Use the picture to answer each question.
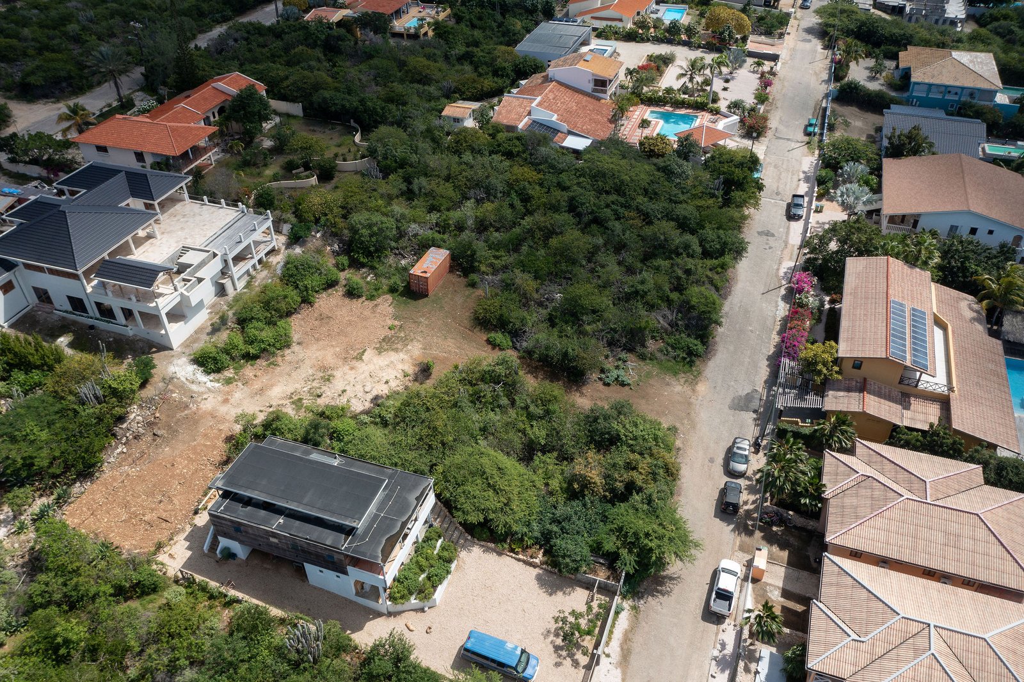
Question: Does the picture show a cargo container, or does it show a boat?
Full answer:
Looking from above, you can make out a cargo container.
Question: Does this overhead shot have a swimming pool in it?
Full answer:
Yes, looking at the shot, I can spot a swimming pool.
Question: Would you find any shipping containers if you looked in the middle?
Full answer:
Yes, in the middle there is a shipping container.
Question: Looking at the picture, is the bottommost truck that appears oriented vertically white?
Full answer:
Yes, white is the color of the bottommost truck that appears oriented vertically.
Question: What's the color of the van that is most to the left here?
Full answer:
The color of the van that is most to the left is blue.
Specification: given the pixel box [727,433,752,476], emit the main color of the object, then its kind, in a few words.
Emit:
gray car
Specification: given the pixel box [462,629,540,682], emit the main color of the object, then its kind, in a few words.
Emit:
blue van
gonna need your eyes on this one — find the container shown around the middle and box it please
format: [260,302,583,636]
[410,248,451,295]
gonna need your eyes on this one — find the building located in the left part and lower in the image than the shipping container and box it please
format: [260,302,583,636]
[198,432,429,615]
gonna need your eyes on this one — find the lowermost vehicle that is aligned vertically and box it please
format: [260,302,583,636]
[708,560,743,623]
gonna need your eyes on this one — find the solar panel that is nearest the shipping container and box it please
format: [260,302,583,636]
[526,119,558,140]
